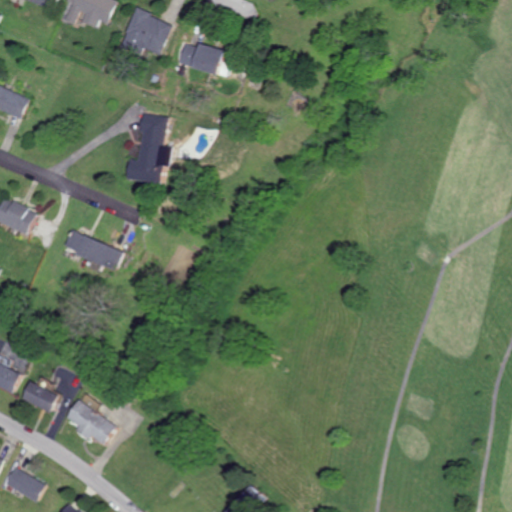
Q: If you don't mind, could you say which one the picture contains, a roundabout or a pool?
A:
pool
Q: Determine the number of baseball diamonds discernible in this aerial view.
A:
0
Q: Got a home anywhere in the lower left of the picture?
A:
Yes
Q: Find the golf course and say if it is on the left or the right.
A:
right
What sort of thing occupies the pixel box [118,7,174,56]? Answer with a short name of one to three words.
house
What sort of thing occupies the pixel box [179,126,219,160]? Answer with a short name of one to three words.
swimming pool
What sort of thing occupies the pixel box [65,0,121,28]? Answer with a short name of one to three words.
house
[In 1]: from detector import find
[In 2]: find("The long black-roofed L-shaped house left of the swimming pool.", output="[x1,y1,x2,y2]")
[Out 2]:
[124,112,173,183]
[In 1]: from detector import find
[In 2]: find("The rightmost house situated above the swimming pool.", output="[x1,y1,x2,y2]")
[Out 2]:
[182,43,226,74]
